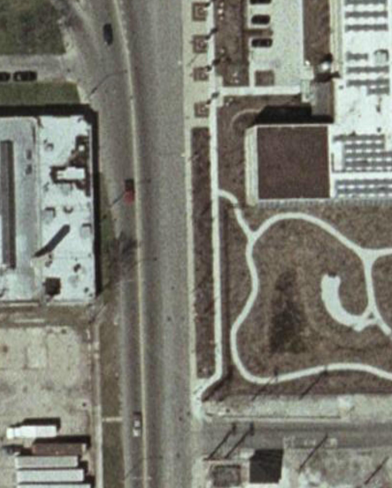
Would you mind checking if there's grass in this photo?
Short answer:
Yes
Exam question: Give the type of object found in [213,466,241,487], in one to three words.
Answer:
shed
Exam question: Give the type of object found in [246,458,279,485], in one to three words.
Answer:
shed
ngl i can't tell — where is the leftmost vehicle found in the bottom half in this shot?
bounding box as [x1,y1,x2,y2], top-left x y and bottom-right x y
[1,444,30,457]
